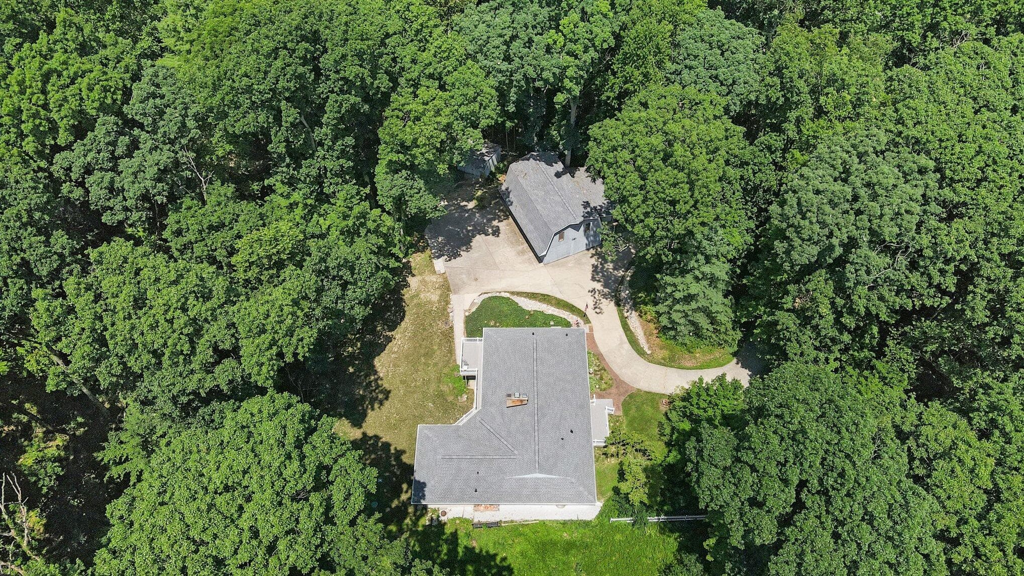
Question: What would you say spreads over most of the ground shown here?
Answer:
trees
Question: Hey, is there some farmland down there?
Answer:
No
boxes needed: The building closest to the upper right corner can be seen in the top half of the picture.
[498,152,631,264]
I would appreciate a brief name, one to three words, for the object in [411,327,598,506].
house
